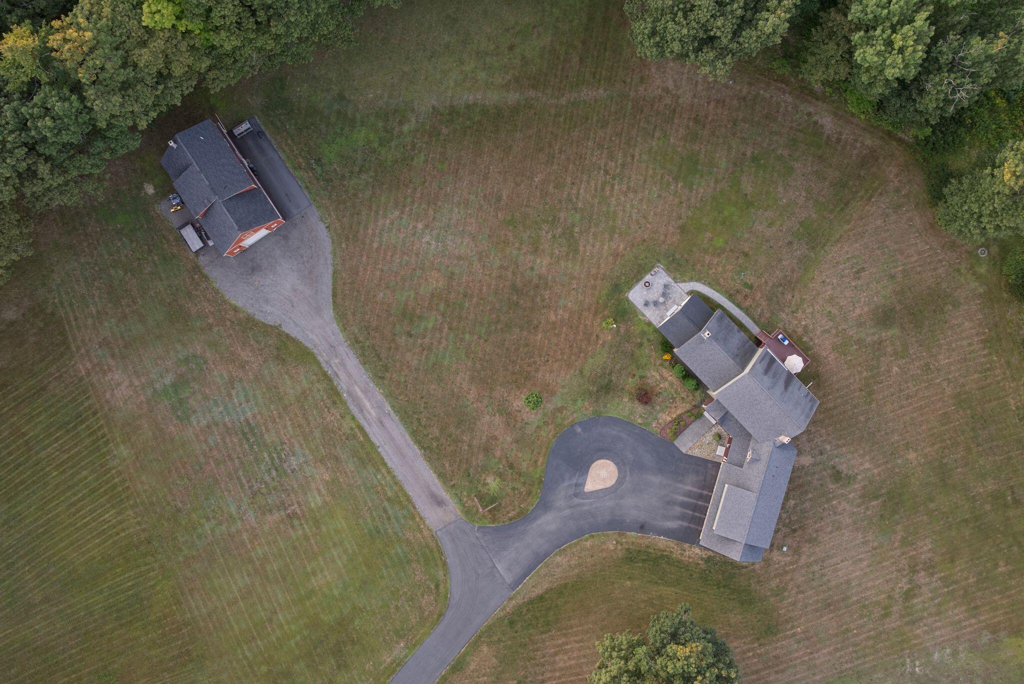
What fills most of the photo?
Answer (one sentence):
The largest share of the image is taken up by grass.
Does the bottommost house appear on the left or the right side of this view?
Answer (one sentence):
The bottommost house sits on the right side.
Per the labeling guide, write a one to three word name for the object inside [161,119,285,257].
barn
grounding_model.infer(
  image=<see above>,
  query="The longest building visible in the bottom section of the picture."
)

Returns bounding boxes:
[656,292,819,562]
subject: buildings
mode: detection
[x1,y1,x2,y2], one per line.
[161,119,285,257]
[656,292,819,562]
